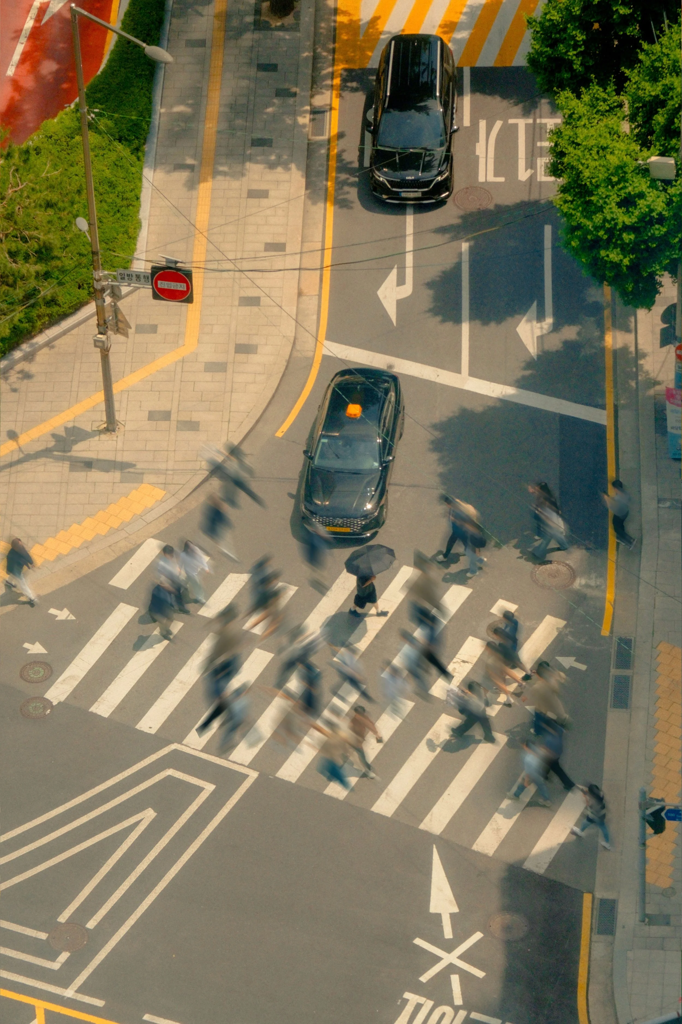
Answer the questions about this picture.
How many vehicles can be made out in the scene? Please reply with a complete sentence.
There are 2 vehicles in the image.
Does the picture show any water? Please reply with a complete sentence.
No, there's no water in this view.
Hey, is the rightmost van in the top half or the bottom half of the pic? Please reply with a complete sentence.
You can find the rightmost van in the top half.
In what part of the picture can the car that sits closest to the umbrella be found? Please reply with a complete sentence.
The car that sits closest to the umbrella is in the center part of the image.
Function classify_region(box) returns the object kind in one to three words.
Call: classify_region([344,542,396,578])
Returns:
umbrella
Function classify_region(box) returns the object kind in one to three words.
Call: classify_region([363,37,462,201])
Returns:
van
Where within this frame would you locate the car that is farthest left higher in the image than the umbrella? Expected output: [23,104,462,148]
[300,371,405,535]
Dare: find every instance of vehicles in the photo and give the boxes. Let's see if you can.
[363,37,462,201]
[300,371,405,535]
